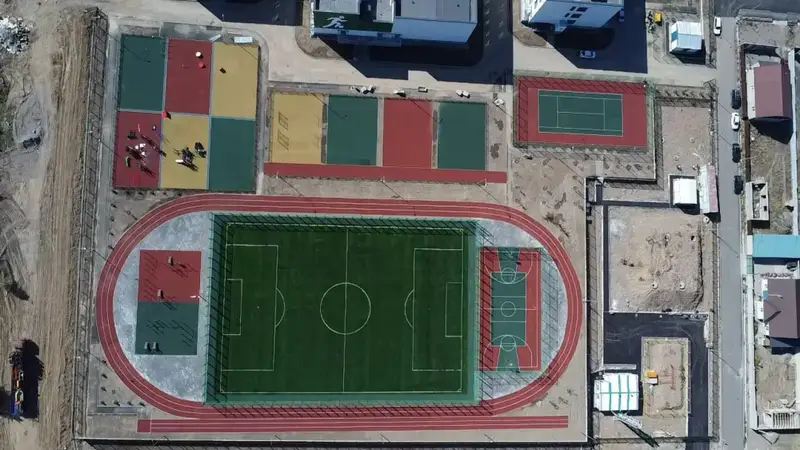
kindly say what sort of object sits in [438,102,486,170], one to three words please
sports court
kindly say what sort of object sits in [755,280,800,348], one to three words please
house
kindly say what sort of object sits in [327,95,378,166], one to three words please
sports court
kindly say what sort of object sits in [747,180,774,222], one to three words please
building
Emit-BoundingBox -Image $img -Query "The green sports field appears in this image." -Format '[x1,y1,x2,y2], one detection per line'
[206,212,478,402]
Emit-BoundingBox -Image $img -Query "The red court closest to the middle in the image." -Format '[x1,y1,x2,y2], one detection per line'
[383,98,432,168]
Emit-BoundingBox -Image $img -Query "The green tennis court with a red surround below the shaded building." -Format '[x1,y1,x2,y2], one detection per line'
[516,77,648,148]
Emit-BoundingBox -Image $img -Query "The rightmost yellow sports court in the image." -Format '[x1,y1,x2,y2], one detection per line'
[271,94,323,164]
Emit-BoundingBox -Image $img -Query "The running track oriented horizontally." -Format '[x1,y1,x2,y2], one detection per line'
[96,195,582,417]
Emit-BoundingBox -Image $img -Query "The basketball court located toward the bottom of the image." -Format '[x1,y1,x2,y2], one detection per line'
[480,248,542,371]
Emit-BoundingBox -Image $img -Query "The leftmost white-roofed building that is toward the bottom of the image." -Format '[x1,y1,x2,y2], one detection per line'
[590,373,638,411]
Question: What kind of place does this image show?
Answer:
sports ground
